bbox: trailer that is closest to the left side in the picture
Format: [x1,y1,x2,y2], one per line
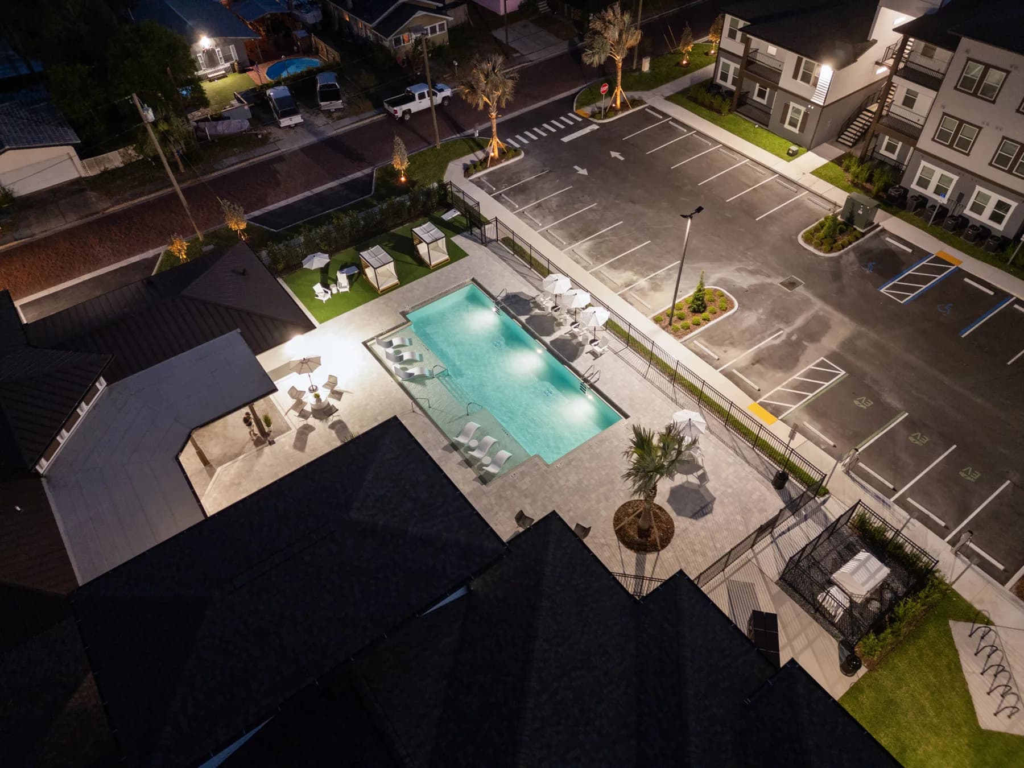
[209,91,251,114]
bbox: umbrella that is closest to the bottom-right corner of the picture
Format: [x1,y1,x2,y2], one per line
[674,412,712,449]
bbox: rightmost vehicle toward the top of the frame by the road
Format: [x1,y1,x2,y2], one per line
[383,86,456,125]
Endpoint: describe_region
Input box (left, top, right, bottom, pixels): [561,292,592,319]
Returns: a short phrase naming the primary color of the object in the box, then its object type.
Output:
white umbrella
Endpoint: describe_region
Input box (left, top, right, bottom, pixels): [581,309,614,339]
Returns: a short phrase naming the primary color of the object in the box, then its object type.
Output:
white umbrella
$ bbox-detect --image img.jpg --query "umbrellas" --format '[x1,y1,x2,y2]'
[299,258,329,296]
[561,292,592,319]
[674,412,712,449]
[541,274,572,302]
[287,352,325,387]
[581,309,614,339]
